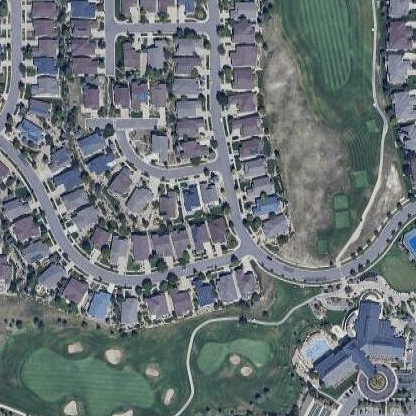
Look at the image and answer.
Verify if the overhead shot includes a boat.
No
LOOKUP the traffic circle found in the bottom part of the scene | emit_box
[356,361,397,402]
